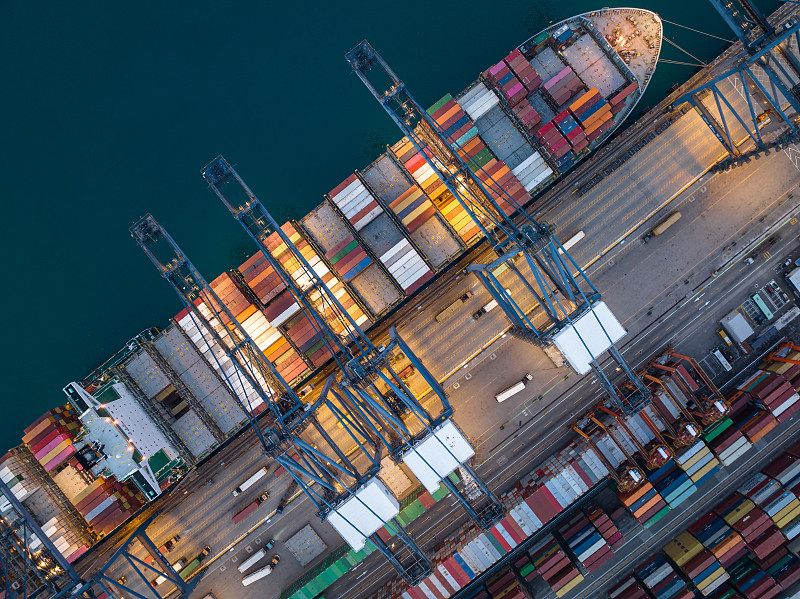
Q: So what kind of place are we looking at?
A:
port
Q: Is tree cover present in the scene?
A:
No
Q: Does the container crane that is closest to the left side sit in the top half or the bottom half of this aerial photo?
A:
bottom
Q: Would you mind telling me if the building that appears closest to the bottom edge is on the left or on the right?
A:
right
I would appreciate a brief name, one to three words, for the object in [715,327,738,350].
bus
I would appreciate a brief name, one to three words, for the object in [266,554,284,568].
vehicle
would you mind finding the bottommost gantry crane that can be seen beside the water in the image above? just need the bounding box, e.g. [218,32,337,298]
[0,480,213,599]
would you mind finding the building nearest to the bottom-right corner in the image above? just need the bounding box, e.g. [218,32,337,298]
[720,308,762,345]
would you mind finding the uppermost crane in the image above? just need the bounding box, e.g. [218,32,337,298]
[661,0,800,180]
